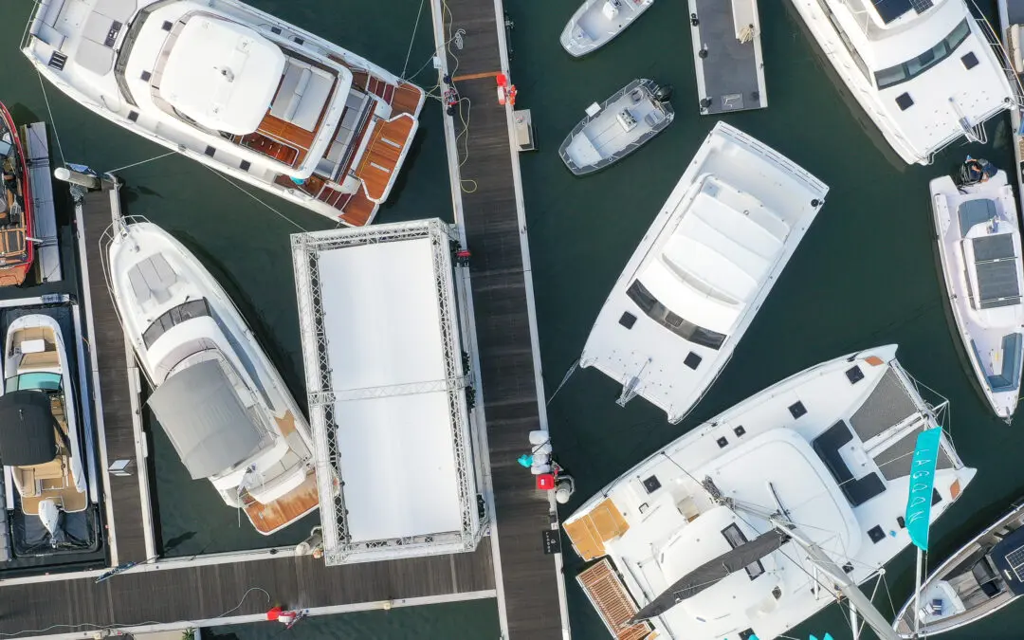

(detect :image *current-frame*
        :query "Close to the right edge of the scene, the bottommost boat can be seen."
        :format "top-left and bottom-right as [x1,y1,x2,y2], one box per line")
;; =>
[887,501,1024,639]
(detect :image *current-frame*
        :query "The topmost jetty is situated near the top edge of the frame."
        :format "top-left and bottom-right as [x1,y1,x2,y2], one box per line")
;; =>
[685,0,768,118]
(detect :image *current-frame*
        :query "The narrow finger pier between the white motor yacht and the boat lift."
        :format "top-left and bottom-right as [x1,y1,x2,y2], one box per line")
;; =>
[75,171,162,566]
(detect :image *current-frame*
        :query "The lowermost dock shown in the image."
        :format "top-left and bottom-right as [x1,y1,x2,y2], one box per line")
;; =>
[0,535,500,640]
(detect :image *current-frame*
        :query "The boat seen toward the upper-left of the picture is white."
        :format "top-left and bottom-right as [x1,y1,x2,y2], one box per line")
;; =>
[17,0,427,227]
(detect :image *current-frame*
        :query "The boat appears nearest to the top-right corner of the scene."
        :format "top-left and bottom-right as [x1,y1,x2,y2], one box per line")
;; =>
[787,0,1024,167]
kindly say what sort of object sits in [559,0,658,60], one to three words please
boat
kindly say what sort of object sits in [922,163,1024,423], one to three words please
boat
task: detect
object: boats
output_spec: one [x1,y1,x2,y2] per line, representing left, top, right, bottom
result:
[99,215,321,534]
[0,97,44,288]
[545,121,829,424]
[17,0,427,227]
[558,78,675,176]
[562,343,982,640]
[922,163,1024,423]
[787,0,1024,167]
[559,0,658,60]
[887,501,1024,639]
